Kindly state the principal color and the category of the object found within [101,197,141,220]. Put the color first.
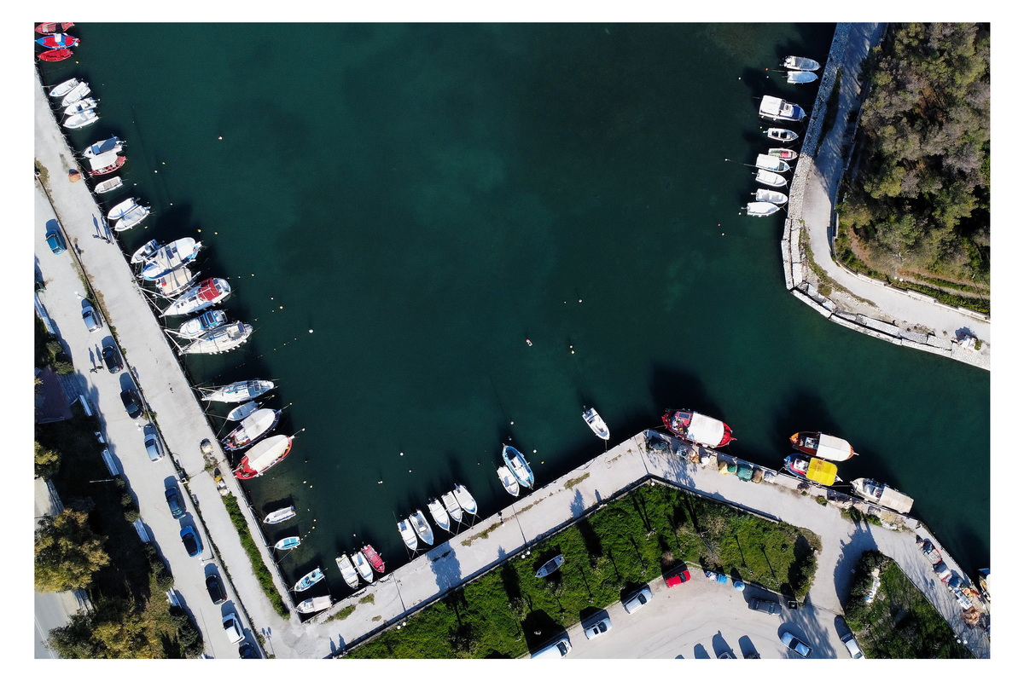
white boat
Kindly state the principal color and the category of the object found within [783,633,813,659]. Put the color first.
blue car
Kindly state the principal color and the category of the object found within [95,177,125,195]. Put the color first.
white boat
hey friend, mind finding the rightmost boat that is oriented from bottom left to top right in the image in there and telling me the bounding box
[536,558,565,577]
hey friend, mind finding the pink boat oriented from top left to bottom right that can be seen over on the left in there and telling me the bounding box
[360,542,390,582]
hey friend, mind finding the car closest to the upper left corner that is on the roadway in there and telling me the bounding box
[43,226,65,254]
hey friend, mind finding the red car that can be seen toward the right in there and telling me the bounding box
[664,569,692,591]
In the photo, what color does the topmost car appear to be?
blue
